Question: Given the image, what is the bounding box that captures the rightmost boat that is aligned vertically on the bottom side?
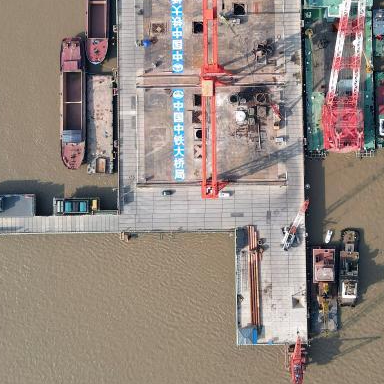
[340,228,360,308]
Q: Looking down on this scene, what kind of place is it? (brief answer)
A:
port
